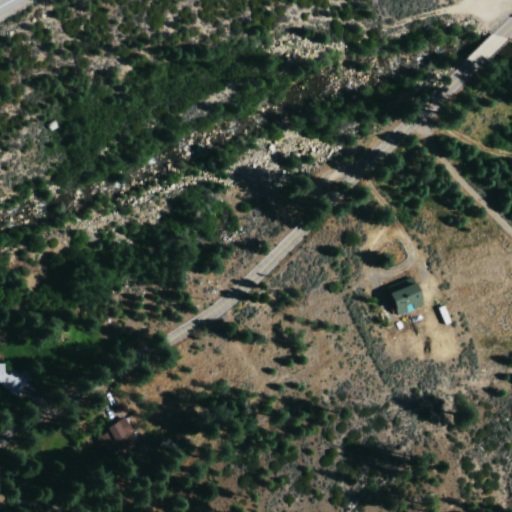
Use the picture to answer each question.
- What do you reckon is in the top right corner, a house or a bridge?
bridge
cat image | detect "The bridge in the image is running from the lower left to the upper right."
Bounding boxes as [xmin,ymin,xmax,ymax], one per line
[470,27,510,70]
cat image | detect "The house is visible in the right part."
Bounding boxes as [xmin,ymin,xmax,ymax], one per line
[392,280,426,314]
